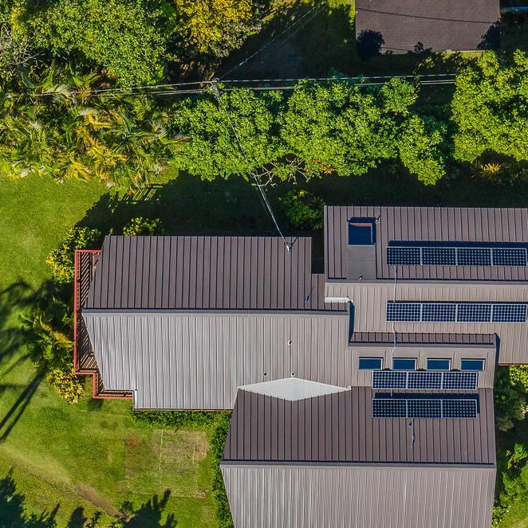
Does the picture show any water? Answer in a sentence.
No, there's no water in this view.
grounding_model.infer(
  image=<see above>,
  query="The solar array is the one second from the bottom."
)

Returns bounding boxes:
[371,371,477,390]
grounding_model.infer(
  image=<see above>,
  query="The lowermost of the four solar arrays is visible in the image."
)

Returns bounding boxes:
[373,398,477,418]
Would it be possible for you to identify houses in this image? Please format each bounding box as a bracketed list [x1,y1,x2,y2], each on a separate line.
[81,206,528,528]
[354,0,503,56]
